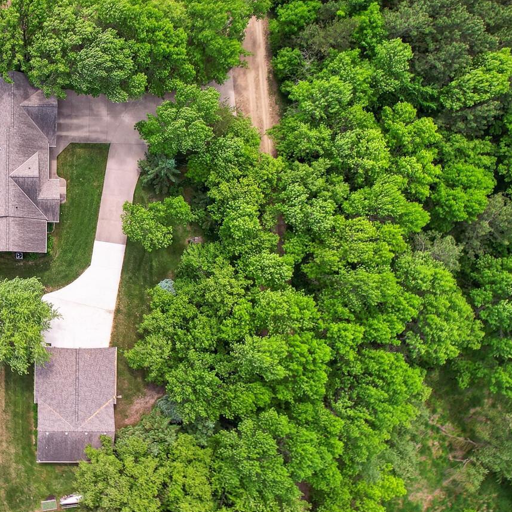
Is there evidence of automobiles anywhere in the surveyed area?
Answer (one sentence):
No, no automobile is visible in the scene.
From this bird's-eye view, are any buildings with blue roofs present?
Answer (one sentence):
No, the frame has no building with a blue roof in it.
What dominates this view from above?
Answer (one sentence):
The bulk of the photo consists of trees.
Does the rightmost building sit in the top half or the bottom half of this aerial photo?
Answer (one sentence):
It is in the bottom half that the rightmost building appears.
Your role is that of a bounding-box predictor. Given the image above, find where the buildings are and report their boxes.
[34,346,122,463]
[0,72,60,252]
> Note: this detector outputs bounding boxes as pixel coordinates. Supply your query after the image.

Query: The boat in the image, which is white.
[58,494,84,506]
